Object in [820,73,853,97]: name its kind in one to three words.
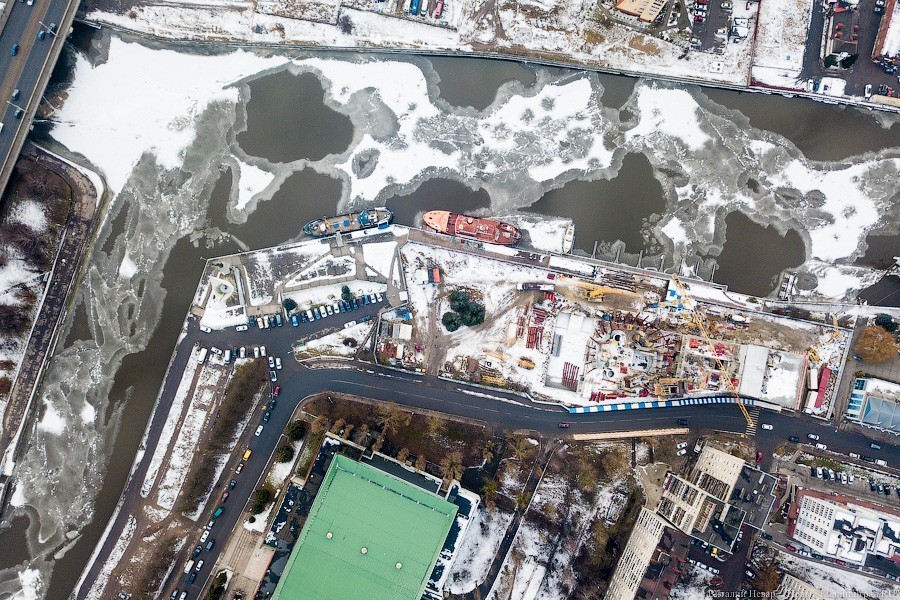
building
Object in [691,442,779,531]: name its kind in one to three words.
building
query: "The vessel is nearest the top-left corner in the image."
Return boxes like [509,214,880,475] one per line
[301,203,391,234]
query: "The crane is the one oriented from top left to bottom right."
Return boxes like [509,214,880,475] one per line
[650,275,753,430]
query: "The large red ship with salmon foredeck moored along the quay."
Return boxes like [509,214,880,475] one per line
[424,209,522,248]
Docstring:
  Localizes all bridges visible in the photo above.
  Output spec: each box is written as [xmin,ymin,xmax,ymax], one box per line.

[0,0,84,215]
